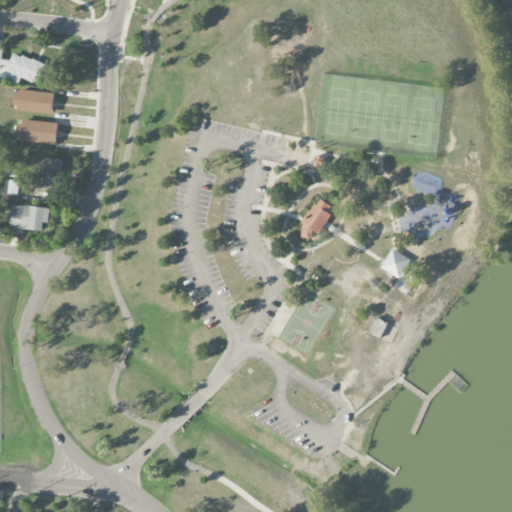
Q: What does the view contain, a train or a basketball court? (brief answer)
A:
basketball court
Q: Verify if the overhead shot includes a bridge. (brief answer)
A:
Yes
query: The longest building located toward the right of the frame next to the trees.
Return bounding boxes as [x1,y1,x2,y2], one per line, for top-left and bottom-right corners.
[300,200,332,240]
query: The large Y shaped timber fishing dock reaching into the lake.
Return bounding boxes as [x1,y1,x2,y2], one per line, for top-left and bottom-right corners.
[403,370,456,434]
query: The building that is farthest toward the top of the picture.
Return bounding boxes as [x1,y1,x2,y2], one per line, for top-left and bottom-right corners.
[0,53,44,85]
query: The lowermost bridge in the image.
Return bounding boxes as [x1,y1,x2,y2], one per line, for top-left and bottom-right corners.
[170,384,216,428]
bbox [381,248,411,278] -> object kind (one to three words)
building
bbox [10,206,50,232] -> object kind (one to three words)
house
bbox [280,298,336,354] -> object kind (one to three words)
basketball court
